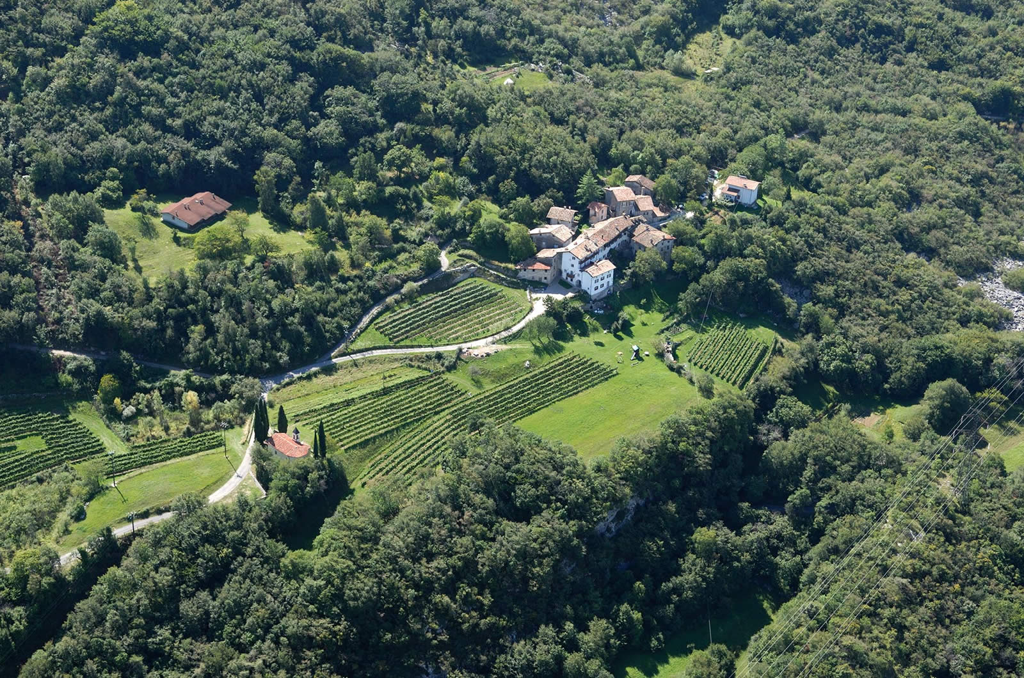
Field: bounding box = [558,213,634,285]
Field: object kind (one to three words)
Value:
house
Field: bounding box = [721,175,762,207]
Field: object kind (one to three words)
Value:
house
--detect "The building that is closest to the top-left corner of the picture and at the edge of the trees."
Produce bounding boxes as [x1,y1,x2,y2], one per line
[162,192,232,230]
